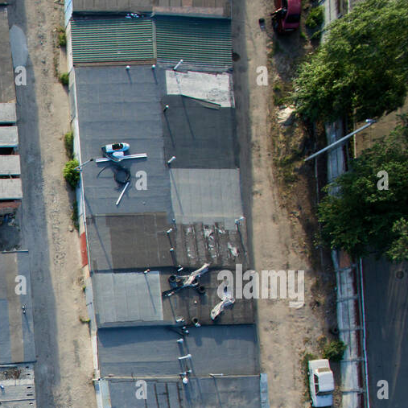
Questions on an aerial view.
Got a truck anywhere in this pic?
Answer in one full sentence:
No, I find no truck anywhere in the image.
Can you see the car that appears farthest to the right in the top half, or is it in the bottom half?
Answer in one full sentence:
It is in the bottom half that the car that appears farthest to the right appears.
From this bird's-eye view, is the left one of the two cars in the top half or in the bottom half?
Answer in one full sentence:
The left one of the two cars is in the top half of the image.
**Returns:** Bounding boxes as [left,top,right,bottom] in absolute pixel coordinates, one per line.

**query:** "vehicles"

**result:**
[304,357,336,408]
[267,0,304,33]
